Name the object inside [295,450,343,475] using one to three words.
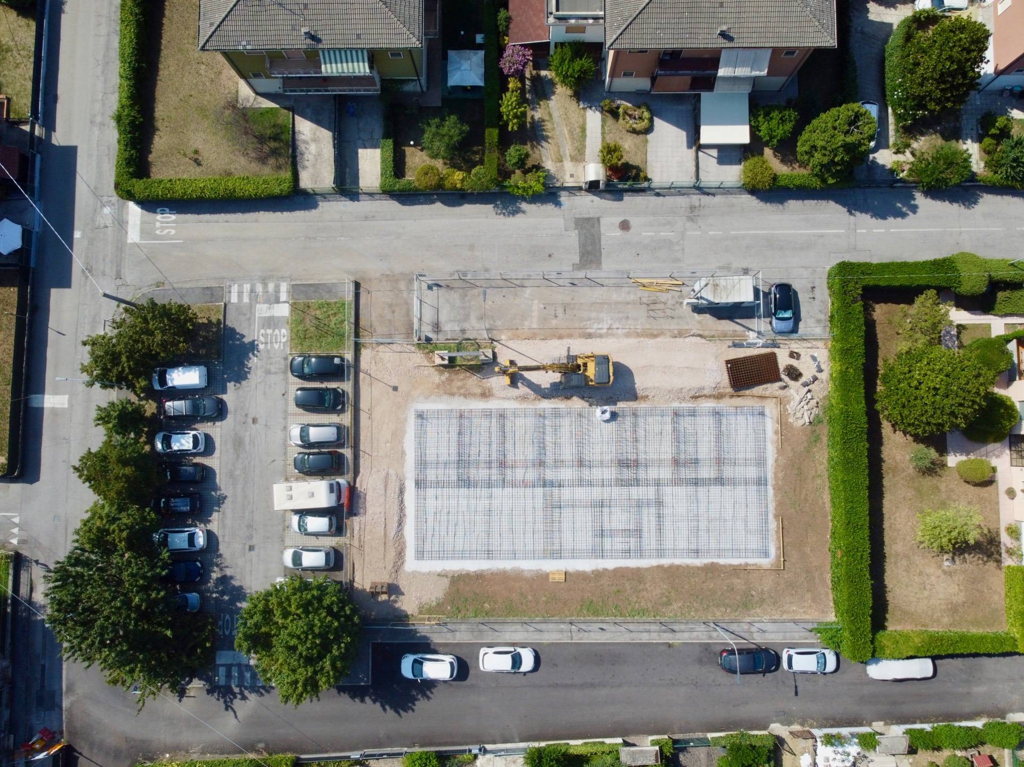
car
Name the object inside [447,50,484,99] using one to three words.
gazebo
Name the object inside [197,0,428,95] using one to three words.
house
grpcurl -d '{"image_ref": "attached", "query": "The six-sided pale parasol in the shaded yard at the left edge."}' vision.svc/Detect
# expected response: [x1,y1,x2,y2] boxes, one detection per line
[0,219,25,253]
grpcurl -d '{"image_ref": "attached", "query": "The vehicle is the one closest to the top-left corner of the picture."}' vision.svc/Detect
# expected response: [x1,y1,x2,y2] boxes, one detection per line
[152,363,210,391]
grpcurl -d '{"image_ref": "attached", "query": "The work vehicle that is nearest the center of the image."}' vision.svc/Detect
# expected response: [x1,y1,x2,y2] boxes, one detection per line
[497,347,617,390]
